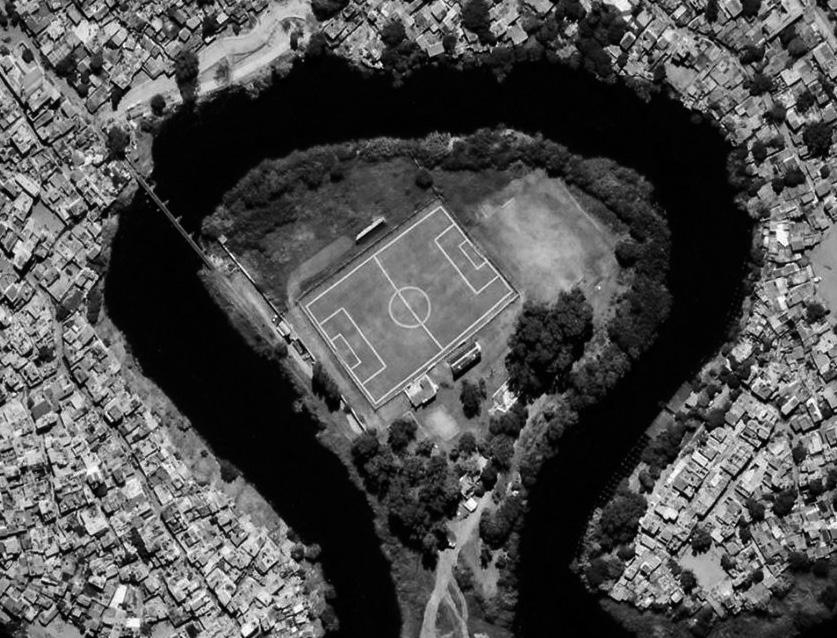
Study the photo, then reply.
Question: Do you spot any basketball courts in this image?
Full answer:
No, no basketball court is visible in the view.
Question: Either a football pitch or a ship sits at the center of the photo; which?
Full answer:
Visible at the center of the photo is a football pitch.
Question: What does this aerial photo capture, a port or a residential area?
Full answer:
The area seen from above is a residential area.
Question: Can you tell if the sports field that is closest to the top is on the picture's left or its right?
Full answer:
You can find the sports field that is closest to the top on the right side of the picture.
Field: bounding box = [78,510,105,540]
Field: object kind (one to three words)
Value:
house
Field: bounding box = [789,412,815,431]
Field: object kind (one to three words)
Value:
house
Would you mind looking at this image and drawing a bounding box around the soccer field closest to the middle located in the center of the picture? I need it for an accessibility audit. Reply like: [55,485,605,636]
[303,203,519,410]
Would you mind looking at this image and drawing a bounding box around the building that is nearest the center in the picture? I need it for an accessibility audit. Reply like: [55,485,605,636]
[405,377,436,406]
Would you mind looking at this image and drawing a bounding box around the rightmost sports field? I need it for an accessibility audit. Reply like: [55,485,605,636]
[491,178,601,289]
